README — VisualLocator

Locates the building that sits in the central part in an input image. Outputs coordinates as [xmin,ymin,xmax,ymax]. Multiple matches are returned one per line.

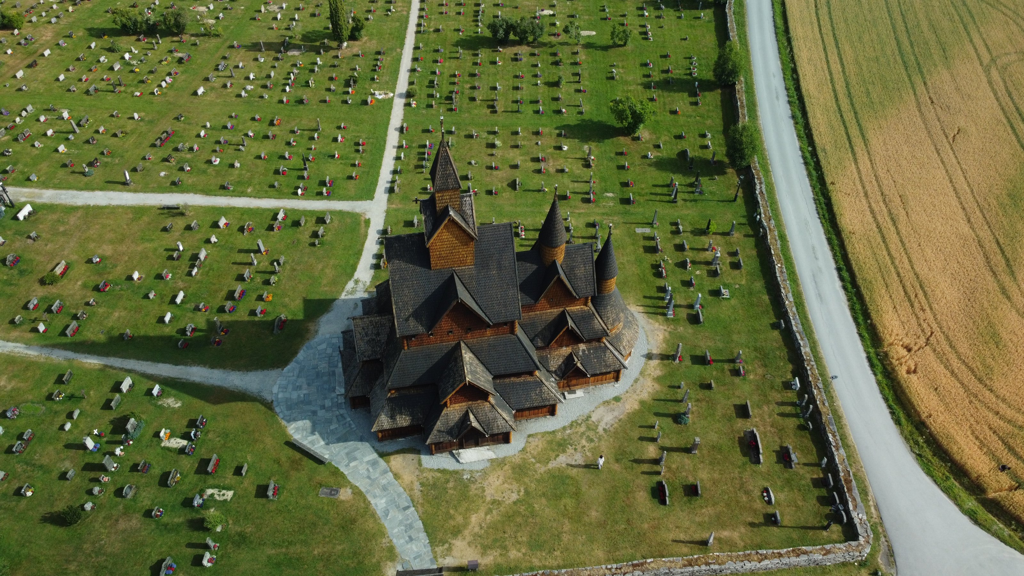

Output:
[337,108,641,456]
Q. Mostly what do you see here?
grass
